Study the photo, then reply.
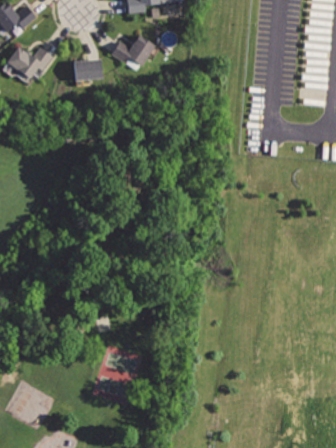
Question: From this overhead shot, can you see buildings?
Yes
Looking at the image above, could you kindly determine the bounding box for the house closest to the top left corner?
[0,0,38,35]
